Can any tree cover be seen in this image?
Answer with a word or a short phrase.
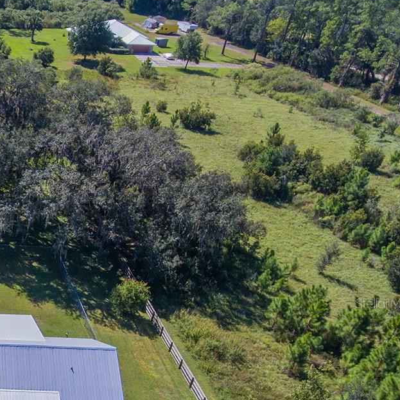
Yes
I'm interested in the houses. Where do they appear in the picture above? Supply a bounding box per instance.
[0,314,127,400]
[62,18,160,54]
